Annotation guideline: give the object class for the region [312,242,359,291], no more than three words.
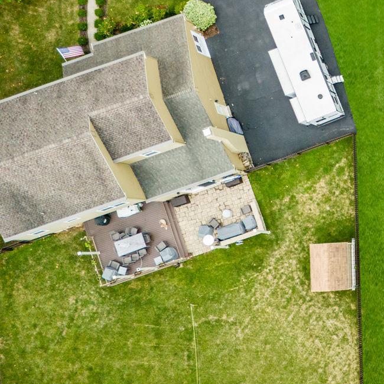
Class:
shed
